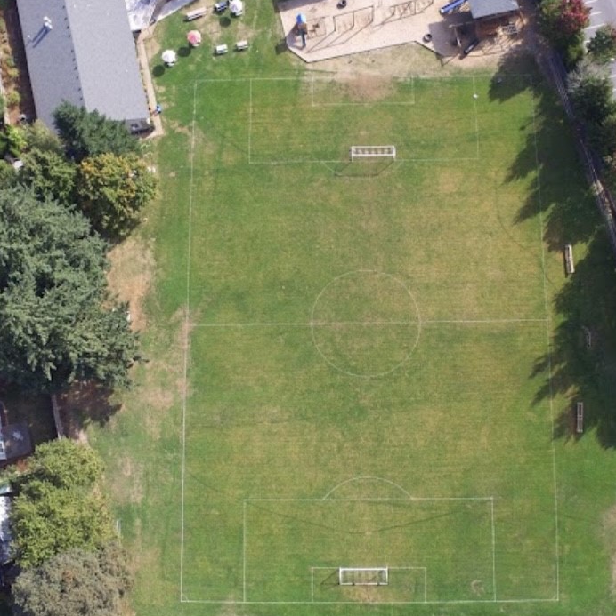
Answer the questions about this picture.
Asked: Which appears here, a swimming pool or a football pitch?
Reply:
football pitch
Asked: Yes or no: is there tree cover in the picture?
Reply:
Yes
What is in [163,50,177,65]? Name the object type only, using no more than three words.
umbrella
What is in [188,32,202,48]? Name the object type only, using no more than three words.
umbrella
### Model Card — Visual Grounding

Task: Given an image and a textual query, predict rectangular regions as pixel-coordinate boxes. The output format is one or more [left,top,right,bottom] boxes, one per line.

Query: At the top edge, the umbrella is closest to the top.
[230,0,244,14]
